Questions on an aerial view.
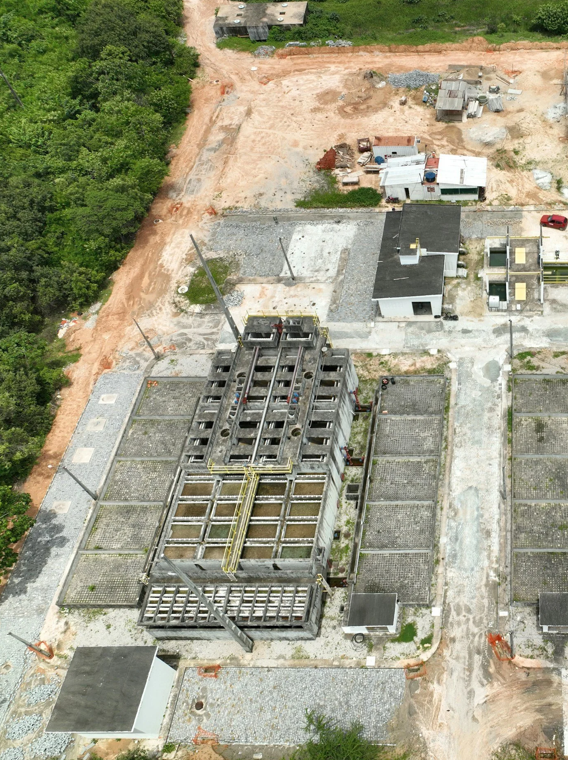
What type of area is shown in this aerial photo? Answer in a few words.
industrial area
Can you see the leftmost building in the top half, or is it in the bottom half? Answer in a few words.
bottom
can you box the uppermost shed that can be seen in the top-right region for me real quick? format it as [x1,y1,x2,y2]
[435,80,467,127]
